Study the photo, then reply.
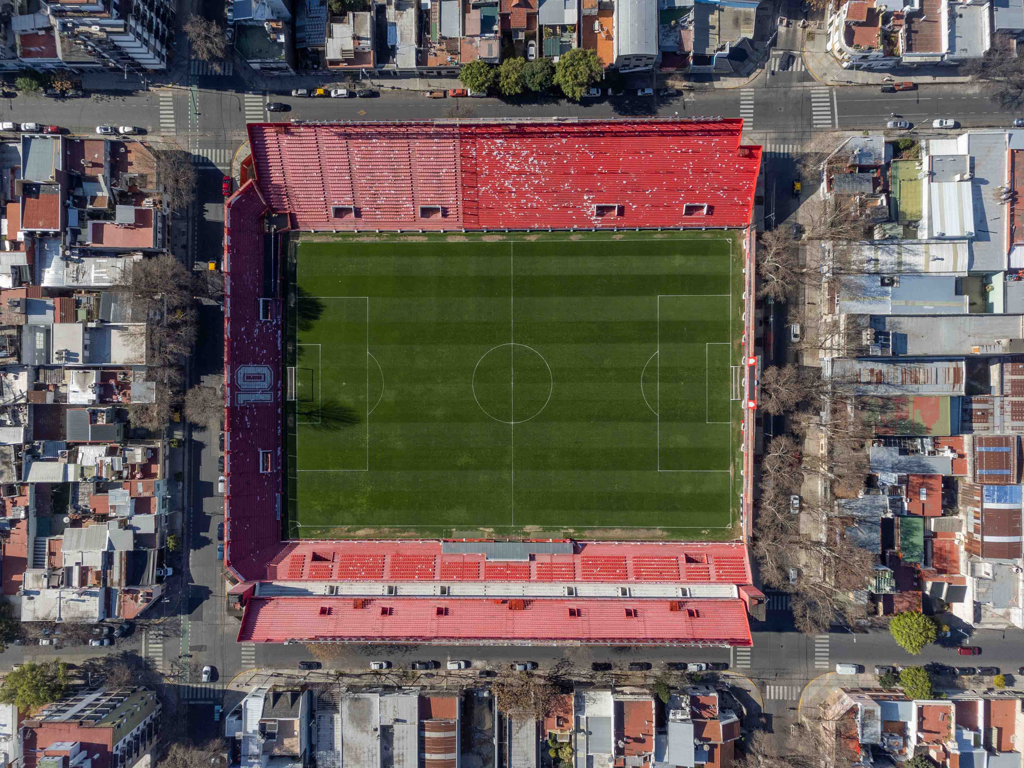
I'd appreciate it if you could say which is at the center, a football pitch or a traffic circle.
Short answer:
football pitch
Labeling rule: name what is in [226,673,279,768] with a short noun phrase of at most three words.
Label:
house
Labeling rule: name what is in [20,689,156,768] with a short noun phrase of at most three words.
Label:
building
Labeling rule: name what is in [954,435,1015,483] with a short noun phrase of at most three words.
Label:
building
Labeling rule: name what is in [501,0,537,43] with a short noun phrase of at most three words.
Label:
house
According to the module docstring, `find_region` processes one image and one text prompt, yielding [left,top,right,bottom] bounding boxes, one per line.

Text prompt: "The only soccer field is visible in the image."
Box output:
[281,232,746,542]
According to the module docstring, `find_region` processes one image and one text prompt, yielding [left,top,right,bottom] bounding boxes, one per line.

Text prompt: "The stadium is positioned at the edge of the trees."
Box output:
[222,117,766,645]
